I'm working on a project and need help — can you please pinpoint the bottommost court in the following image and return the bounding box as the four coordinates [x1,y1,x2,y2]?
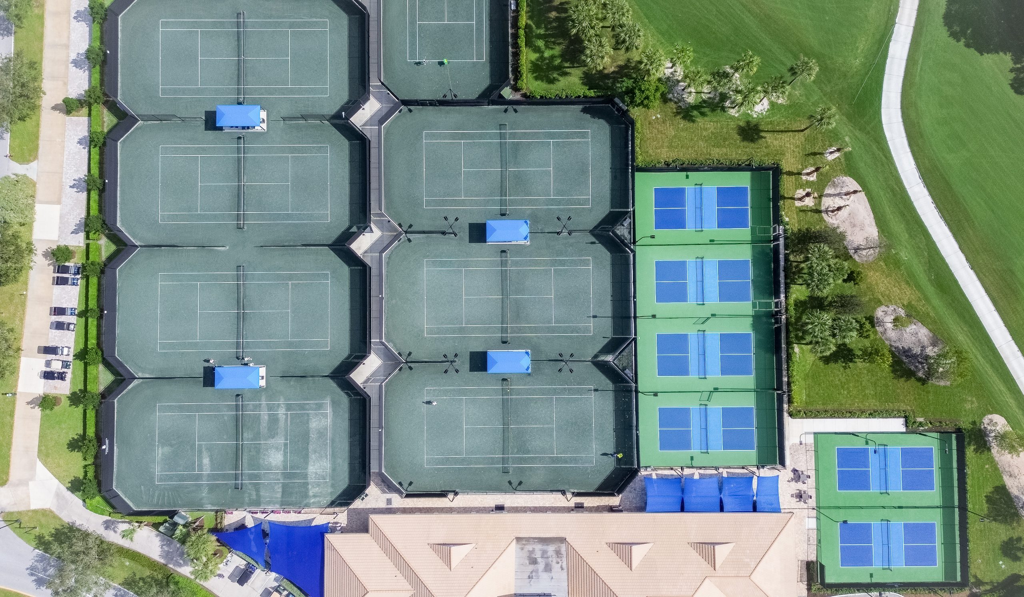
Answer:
[817,509,960,583]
